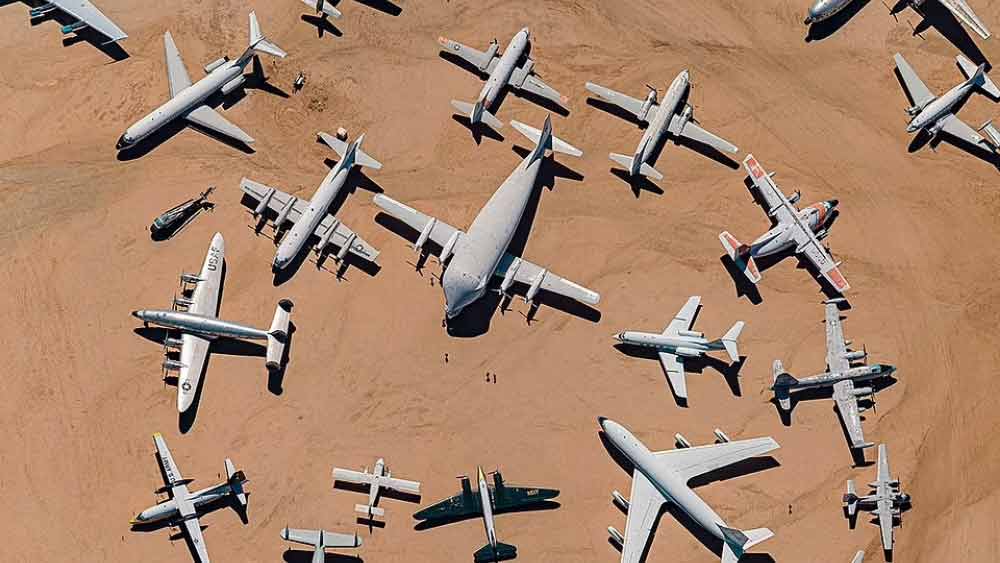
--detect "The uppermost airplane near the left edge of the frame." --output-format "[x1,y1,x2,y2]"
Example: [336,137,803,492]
[34,0,132,45]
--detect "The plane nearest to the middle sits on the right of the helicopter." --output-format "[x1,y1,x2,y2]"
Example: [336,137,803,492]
[374,117,600,317]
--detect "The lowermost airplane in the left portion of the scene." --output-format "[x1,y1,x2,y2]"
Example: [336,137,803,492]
[280,524,363,563]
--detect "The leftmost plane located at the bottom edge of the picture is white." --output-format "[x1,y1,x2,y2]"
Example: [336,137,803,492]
[129,431,248,563]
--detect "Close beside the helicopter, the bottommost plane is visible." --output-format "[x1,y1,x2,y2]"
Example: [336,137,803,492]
[132,232,293,411]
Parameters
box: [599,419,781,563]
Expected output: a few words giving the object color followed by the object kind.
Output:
white airplane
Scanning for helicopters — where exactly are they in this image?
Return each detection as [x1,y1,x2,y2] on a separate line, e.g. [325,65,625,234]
[150,181,218,227]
